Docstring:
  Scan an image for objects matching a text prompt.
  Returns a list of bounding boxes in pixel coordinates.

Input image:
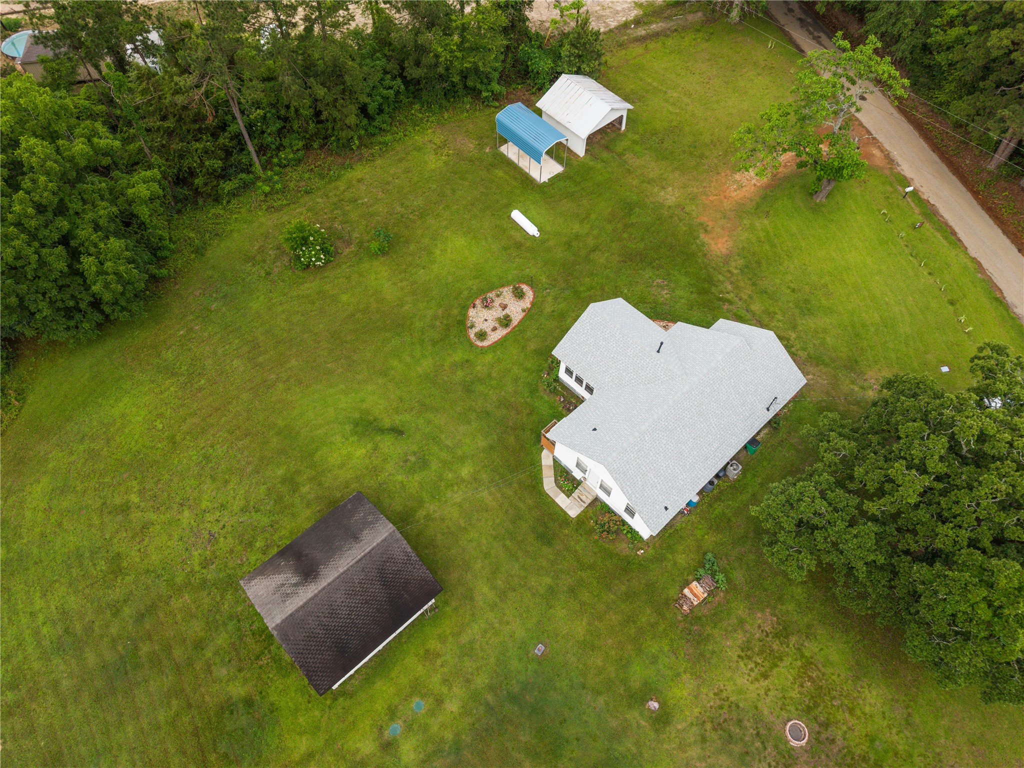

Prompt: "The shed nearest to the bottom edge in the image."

[240,492,443,695]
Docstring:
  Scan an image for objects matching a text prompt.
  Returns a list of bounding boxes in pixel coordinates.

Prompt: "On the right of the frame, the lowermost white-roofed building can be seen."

[544,297,808,542]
